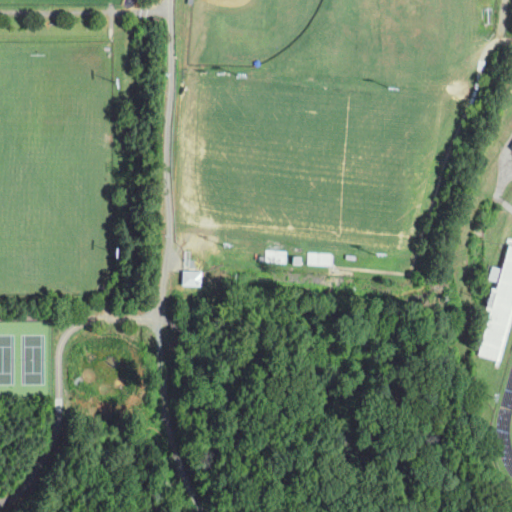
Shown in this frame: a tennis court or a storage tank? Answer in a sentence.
The image shows a tennis court.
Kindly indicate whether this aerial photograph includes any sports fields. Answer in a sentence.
Yes, you can see a sports field in this photo.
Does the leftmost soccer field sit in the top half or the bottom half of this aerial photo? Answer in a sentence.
You can find the leftmost soccer field in the top half.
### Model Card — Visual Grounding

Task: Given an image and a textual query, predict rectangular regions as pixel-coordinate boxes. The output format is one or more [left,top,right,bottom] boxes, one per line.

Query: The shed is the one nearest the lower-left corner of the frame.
[182,271,204,288]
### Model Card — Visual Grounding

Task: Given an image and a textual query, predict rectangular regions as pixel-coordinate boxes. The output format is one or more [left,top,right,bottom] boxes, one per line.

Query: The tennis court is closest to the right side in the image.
[22,336,46,385]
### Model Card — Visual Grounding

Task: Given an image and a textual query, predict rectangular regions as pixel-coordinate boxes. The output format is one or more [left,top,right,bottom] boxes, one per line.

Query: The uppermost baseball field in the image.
[190,0,318,64]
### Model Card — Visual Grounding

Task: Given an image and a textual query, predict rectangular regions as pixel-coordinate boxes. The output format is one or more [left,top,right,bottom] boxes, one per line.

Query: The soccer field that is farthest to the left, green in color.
[0,43,110,294]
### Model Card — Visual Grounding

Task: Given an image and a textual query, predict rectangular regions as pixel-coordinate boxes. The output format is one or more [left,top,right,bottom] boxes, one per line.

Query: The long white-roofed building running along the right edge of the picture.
[477,241,512,370]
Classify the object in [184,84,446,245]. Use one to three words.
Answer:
sports field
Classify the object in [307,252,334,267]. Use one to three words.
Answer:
shed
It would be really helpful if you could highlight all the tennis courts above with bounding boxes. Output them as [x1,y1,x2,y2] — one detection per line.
[0,336,16,385]
[22,336,46,385]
